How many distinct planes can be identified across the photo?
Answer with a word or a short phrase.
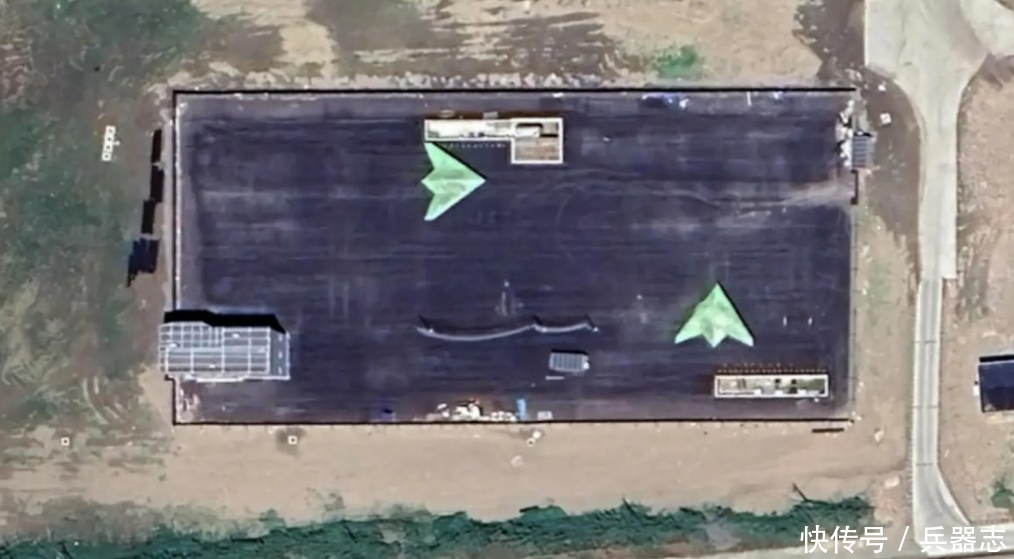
two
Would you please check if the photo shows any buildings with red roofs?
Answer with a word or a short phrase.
No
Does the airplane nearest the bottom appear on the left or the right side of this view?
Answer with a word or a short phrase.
right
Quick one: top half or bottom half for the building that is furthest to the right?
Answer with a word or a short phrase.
bottom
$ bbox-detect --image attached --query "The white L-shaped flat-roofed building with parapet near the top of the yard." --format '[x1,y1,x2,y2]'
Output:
[424,119,566,165]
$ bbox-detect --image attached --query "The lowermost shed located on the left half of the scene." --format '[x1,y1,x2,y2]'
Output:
[160,322,288,382]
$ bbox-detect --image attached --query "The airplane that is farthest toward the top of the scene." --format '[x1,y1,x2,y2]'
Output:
[422,143,486,219]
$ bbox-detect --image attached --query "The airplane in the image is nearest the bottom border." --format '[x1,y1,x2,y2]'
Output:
[677,283,753,347]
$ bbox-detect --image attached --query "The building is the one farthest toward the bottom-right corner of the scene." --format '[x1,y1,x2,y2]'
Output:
[978,361,1014,414]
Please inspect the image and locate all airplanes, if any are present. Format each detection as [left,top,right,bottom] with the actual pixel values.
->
[422,143,486,219]
[677,283,753,347]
